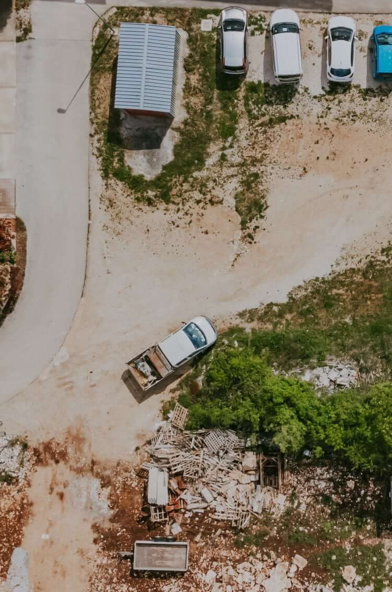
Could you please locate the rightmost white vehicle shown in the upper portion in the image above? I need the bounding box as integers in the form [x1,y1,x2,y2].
[323,15,358,85]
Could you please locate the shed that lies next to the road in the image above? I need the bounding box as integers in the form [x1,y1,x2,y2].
[114,23,184,119]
